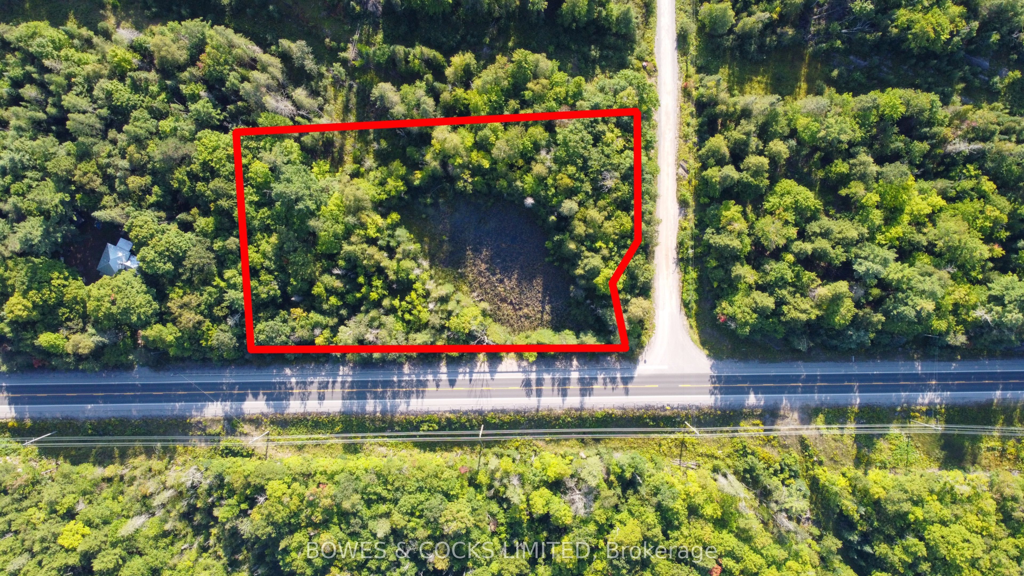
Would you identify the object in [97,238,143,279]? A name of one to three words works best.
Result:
house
